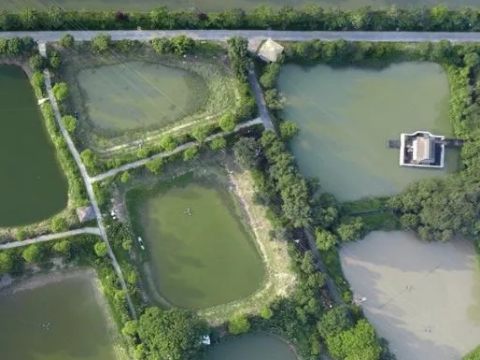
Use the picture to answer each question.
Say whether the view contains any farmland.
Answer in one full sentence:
No, there's no farmland in this view.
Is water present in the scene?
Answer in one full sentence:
Yes, there is water in the image.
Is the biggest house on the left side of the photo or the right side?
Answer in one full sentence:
The biggest house sits on the right side.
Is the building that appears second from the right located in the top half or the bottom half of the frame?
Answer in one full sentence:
It is in the top half that the building that appears second from the right appears.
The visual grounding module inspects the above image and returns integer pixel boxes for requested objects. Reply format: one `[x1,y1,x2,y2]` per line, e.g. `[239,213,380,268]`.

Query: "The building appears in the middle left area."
[75,203,96,223]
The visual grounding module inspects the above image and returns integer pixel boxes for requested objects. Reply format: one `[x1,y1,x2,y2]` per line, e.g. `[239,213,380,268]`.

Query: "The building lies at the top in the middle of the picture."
[253,39,284,65]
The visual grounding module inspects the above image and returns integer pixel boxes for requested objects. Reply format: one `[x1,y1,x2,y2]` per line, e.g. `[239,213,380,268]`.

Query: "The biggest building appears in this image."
[391,131,445,168]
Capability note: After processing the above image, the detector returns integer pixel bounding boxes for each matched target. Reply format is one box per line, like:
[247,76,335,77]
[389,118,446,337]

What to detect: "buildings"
[75,203,96,223]
[391,131,445,168]
[253,39,284,65]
